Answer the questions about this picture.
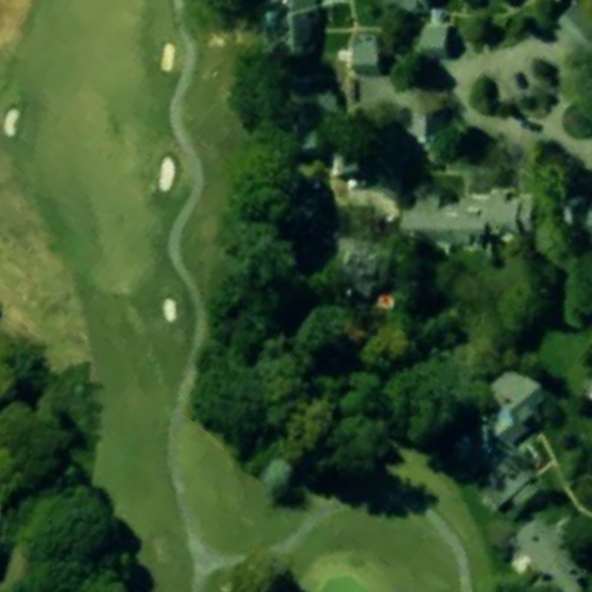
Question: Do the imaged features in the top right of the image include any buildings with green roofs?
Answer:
Yes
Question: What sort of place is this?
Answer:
golf course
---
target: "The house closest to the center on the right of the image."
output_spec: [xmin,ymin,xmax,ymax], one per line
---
[332,232,394,291]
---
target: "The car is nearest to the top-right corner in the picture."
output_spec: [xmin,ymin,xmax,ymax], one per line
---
[515,72,527,89]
